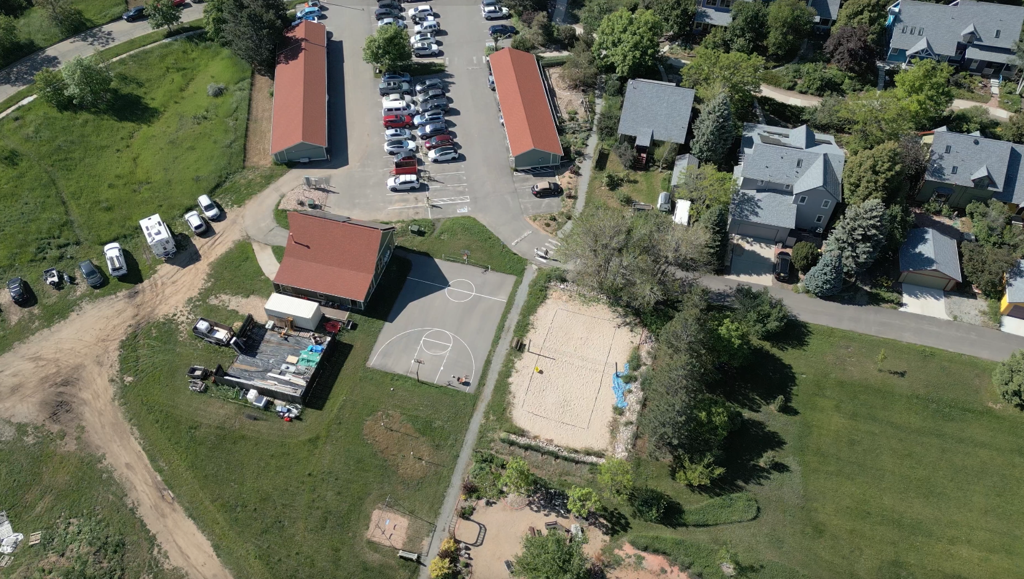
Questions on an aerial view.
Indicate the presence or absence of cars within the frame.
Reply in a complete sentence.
Yes, the frame does contain a car.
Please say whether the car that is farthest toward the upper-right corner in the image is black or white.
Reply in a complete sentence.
The car that is farthest toward the upper-right corner looks black in the image.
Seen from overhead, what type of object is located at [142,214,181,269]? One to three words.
camper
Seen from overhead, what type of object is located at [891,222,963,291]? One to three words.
building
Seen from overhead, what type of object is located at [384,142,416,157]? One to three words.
car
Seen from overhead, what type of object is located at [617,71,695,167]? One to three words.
house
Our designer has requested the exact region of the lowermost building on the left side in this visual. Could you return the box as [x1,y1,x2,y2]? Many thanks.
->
[271,209,398,324]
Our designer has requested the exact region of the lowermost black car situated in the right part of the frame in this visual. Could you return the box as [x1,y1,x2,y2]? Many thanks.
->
[772,252,793,284]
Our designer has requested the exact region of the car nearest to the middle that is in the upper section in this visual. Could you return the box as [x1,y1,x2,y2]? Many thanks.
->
[531,183,562,200]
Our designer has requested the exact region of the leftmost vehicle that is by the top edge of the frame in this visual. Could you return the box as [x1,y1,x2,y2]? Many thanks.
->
[121,7,147,24]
